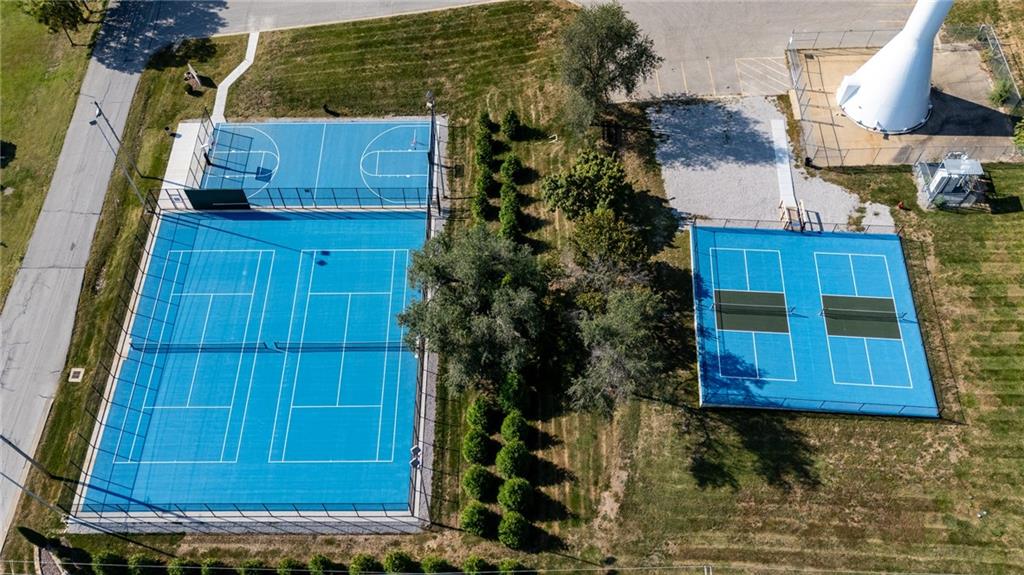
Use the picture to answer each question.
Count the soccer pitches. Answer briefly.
0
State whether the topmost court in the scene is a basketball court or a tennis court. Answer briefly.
basketball court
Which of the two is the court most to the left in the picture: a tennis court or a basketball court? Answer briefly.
tennis court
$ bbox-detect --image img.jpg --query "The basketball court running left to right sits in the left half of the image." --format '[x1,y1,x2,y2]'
[163,122,430,211]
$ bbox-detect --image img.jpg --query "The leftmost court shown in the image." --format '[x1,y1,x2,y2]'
[85,209,294,512]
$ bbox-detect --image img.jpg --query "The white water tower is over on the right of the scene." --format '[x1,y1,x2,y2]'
[834,0,953,138]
